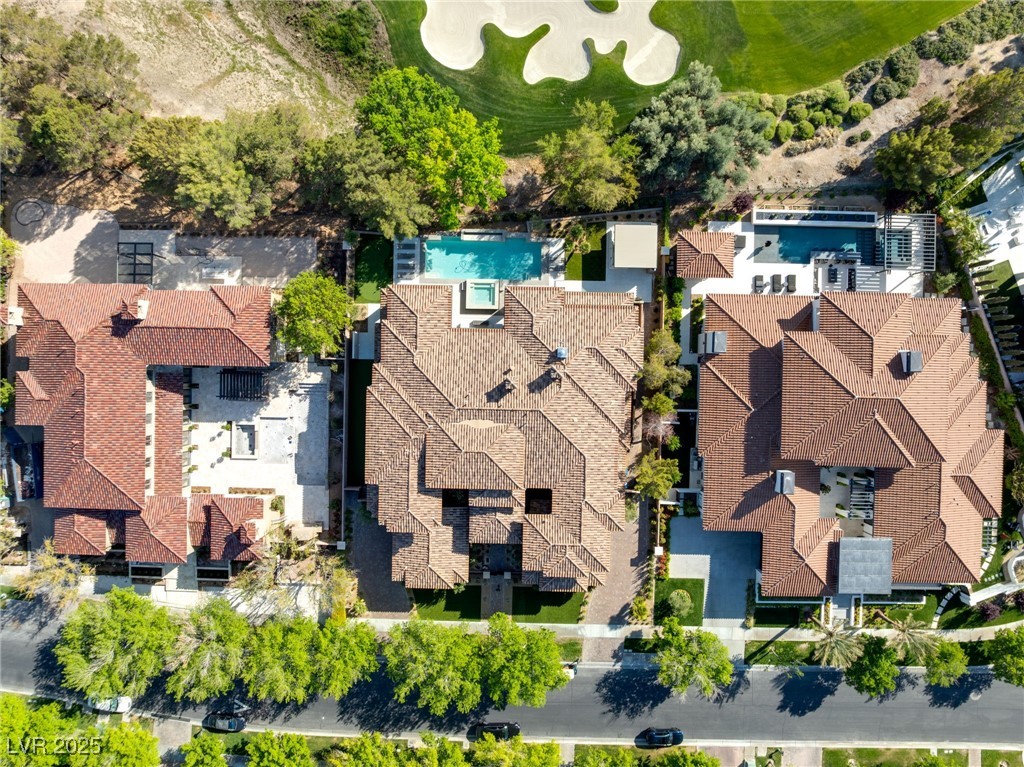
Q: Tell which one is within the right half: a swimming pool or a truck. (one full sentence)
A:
The feature located within the right half is a swimming pool.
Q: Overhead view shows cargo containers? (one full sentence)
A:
No, there isn't any cargo container down there.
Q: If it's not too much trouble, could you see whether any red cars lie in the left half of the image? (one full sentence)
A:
No, looking in the left half of the image, there is no red car.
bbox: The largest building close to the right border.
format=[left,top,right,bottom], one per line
[691,291,1005,598]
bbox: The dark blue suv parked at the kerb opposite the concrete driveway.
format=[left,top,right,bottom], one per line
[642,725,686,749]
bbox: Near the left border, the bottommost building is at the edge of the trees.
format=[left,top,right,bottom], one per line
[8,283,286,564]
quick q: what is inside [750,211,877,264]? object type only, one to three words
swimming pool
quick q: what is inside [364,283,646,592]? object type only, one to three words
house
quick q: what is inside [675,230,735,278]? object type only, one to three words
building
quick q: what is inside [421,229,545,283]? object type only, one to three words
swimming pool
